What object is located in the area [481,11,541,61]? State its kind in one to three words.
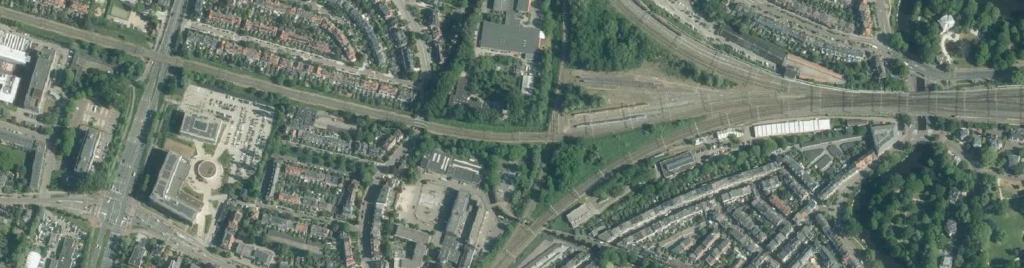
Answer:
building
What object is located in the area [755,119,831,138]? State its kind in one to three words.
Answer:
building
